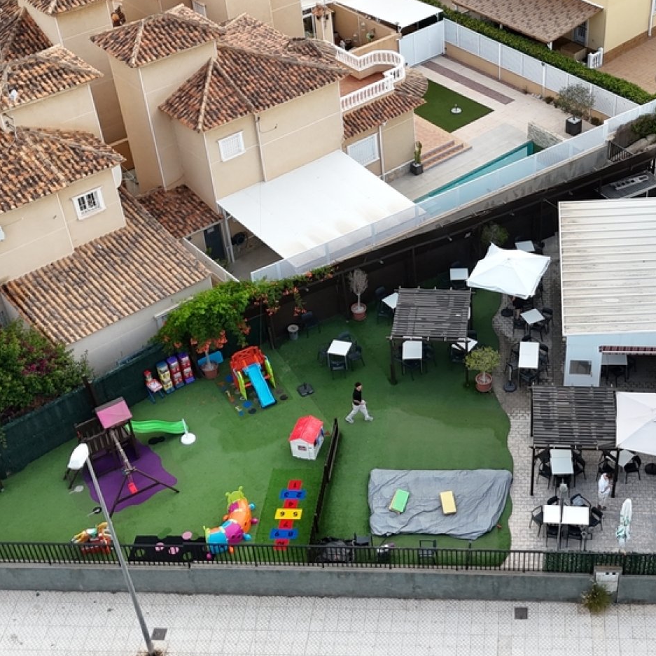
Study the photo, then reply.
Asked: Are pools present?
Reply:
Yes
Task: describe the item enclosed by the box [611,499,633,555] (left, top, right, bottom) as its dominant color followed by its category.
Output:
white umbrella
